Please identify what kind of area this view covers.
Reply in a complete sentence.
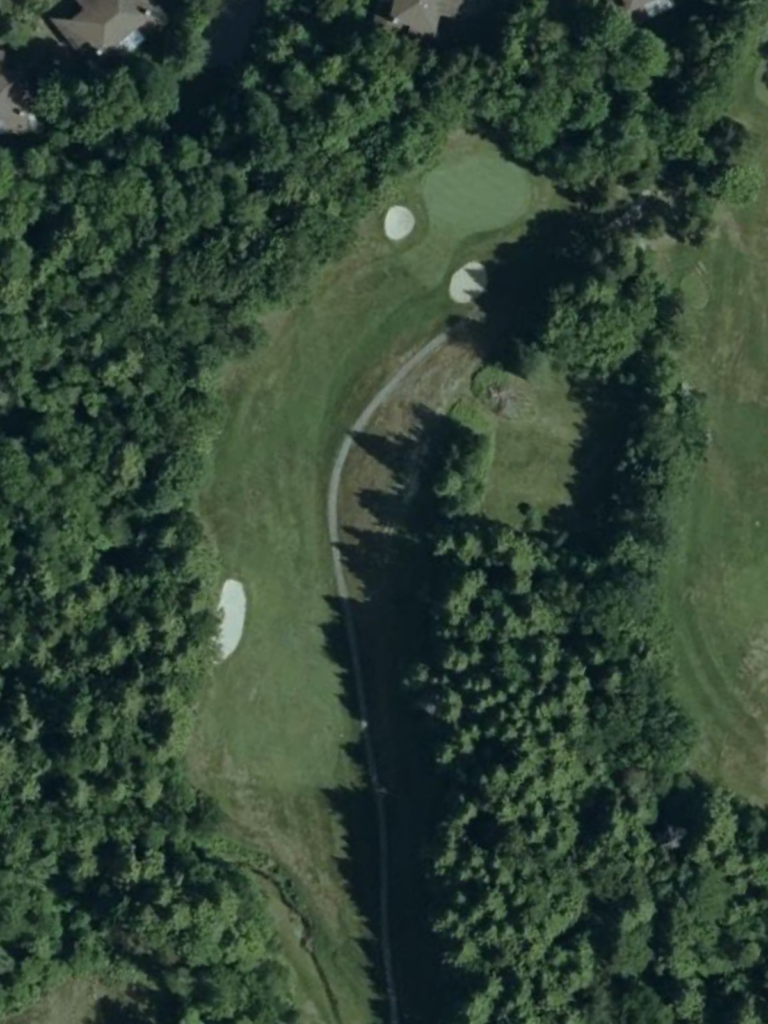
The area seen from above is a golf course.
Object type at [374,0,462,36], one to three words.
house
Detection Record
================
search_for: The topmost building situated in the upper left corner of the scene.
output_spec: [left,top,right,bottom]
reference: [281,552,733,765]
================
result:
[52,0,155,57]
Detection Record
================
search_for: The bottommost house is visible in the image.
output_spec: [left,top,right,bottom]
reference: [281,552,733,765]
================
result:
[0,48,39,133]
